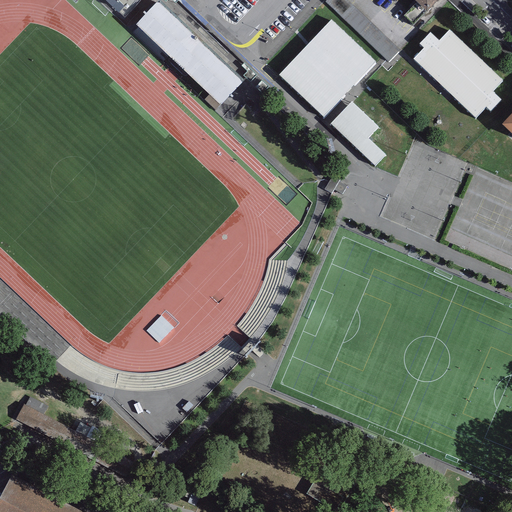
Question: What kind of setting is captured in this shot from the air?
sports ground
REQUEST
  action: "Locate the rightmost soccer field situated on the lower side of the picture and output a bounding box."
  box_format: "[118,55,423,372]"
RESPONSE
[274,225,512,488]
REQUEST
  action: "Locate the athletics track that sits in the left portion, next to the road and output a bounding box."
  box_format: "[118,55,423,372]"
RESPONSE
[0,0,300,372]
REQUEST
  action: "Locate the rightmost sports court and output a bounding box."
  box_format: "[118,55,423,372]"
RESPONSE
[446,164,512,270]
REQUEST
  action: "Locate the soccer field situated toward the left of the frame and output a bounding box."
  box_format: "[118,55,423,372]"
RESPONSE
[0,22,238,342]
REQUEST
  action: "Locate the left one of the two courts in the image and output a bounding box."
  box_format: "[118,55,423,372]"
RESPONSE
[384,141,466,240]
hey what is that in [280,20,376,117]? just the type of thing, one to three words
building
